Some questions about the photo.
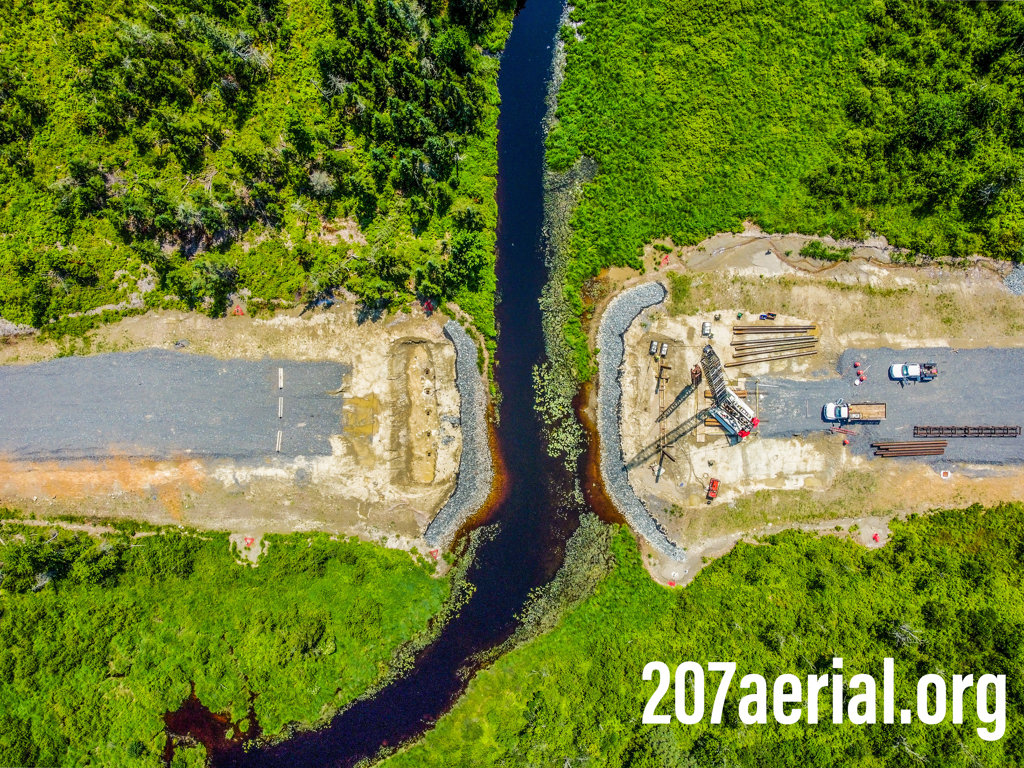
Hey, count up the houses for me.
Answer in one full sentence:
I count no houses.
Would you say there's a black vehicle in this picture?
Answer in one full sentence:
No, I can't see a single black vehicle in this photo.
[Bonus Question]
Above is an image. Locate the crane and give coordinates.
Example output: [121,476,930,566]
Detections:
[697,343,764,441]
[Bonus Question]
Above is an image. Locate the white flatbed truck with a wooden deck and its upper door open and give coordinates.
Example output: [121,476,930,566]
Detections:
[822,396,890,422]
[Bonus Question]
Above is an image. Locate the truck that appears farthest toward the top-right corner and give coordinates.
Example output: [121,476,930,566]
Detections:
[889,360,941,385]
